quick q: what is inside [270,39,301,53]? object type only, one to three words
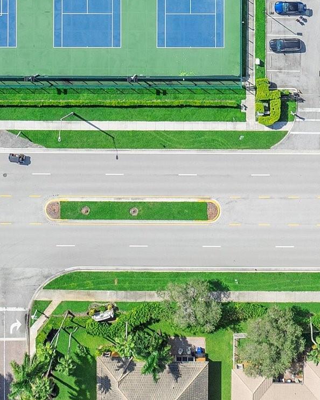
car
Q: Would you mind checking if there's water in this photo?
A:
No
